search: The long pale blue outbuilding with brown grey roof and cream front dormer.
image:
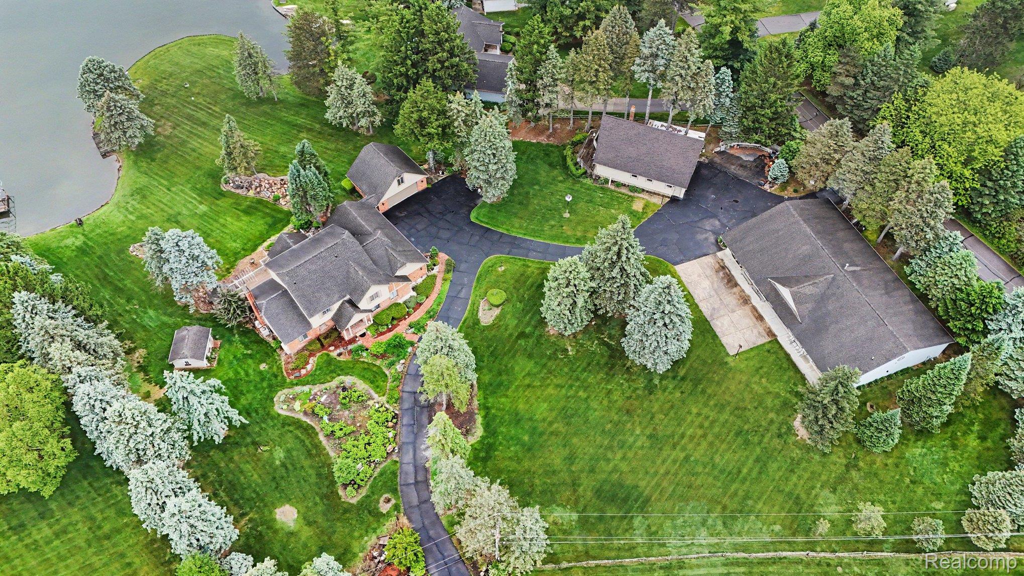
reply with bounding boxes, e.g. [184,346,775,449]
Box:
[718,198,955,383]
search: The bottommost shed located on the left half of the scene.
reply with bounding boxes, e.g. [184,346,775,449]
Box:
[170,325,215,369]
